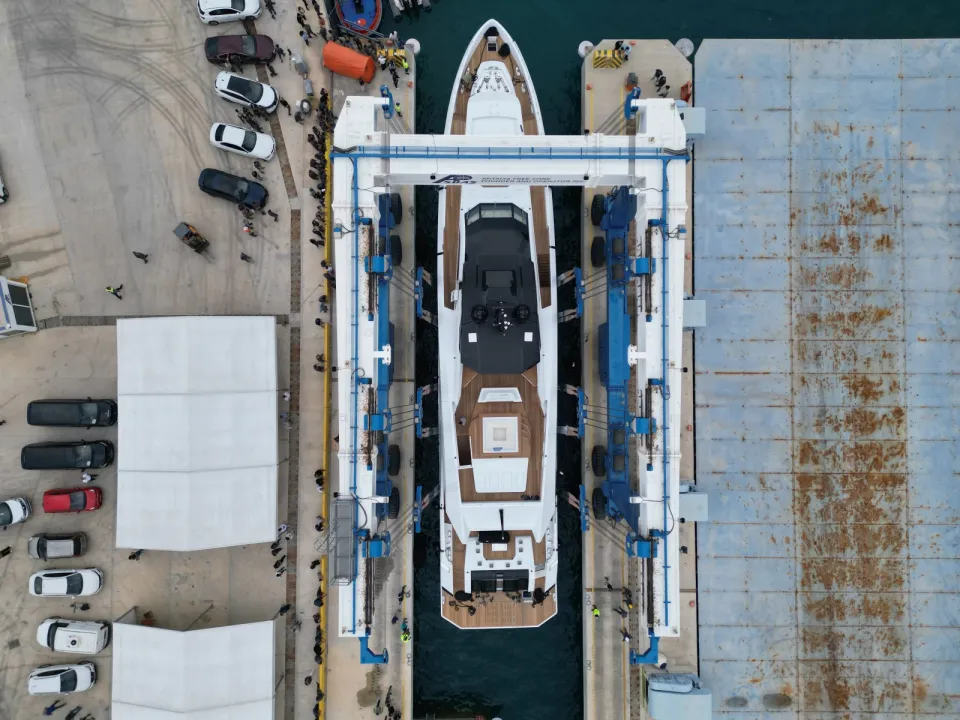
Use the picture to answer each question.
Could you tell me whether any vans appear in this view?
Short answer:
Yes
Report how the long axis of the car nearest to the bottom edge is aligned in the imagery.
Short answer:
horizontally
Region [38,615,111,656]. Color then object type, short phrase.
white van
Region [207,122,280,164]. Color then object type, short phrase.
white car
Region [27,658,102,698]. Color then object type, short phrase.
white car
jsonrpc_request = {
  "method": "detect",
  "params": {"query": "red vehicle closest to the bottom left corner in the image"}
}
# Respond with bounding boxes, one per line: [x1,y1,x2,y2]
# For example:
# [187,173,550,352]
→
[37,484,108,517]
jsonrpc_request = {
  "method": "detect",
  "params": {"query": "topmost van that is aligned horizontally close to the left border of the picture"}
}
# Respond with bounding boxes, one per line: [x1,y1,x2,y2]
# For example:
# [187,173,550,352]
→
[21,395,114,431]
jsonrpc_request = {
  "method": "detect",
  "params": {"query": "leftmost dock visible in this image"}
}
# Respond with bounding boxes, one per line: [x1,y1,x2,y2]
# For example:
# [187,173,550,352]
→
[322,38,417,720]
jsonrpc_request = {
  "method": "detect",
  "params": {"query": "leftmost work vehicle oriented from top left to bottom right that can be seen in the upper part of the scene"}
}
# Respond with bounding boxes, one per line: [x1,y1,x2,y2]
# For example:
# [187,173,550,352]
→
[160,214,222,262]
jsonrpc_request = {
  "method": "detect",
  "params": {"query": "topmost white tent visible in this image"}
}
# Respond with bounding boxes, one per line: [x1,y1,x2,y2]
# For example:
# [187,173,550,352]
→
[112,316,289,555]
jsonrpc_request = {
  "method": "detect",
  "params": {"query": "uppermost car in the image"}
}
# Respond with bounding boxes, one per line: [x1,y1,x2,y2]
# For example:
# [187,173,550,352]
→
[196,0,265,31]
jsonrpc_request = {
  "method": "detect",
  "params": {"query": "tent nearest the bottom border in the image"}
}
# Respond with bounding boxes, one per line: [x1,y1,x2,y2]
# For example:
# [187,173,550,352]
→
[109,607,285,720]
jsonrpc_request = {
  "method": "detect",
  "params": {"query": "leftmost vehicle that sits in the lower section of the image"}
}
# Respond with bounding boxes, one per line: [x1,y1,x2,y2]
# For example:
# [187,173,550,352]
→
[0,495,37,532]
